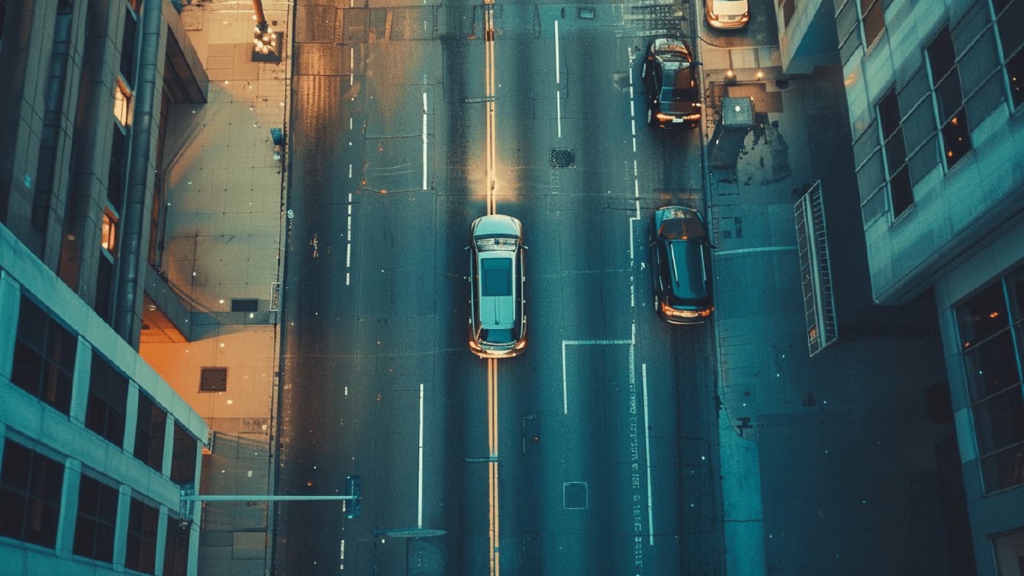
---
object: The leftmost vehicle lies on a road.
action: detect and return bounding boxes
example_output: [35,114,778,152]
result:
[463,217,532,361]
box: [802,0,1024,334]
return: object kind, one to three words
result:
building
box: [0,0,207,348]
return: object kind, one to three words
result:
building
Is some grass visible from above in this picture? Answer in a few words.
No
